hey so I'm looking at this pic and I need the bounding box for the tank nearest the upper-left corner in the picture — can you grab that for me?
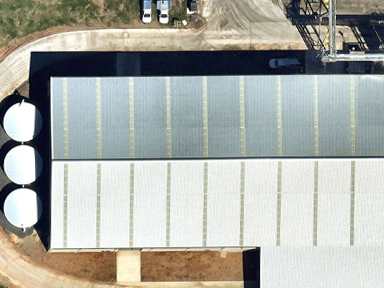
[2,91,43,144]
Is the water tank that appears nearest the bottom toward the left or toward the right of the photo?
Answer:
left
